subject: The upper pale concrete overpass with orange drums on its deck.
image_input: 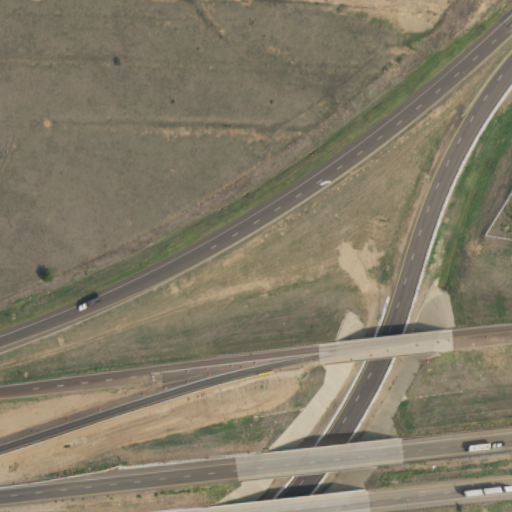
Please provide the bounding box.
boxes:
[320,329,454,363]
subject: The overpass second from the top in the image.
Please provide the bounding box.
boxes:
[236,438,404,481]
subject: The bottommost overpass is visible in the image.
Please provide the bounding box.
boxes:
[202,489,370,512]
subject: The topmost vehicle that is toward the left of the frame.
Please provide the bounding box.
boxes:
[78,296,103,312]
